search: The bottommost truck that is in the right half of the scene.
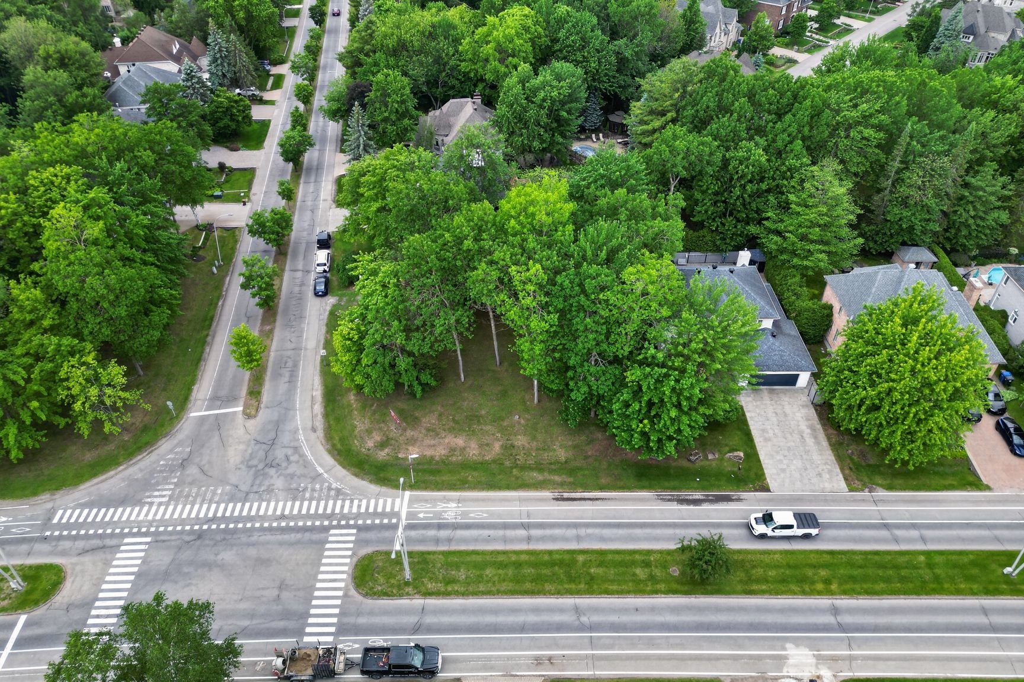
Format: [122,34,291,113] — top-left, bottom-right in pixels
[744,506,822,537]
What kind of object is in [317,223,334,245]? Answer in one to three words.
car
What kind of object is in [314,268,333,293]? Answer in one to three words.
car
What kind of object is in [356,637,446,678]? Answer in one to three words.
truck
